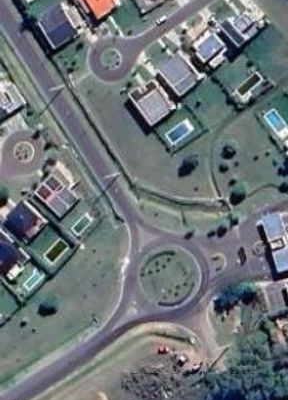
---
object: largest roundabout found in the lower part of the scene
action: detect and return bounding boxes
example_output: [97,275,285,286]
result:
[126,234,211,318]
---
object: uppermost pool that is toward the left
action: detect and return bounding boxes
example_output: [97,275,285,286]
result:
[72,212,94,236]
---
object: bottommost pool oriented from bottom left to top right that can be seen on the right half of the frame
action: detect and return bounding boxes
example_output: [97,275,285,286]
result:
[165,119,195,146]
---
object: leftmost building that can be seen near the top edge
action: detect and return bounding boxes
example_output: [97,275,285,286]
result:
[37,2,83,49]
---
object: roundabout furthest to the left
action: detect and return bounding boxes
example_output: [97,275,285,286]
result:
[1,130,44,175]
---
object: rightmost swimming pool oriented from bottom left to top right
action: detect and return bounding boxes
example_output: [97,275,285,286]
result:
[235,71,264,97]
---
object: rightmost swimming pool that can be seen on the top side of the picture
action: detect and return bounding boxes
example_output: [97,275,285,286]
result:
[264,110,288,139]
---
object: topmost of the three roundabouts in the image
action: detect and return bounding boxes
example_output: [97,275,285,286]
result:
[89,37,132,81]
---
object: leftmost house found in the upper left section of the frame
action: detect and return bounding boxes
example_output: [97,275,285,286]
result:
[0,80,31,116]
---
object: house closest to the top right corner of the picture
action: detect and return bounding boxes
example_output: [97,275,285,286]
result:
[218,13,270,47]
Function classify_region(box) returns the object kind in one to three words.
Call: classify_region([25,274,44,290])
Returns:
swimming pool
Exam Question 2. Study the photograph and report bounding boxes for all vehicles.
[176,355,187,364]
[156,16,165,24]
[238,249,245,261]
[156,346,168,353]
[186,366,196,373]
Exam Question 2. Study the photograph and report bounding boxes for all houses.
[35,175,84,216]
[218,13,270,47]
[37,2,83,49]
[84,0,121,20]
[159,53,199,95]
[4,200,52,243]
[194,30,230,68]
[0,80,31,116]
[0,239,27,280]
[128,78,182,126]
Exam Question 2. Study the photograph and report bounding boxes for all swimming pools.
[264,110,288,139]
[72,212,94,236]
[235,71,264,97]
[25,274,44,290]
[44,239,69,263]
[165,119,195,146]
